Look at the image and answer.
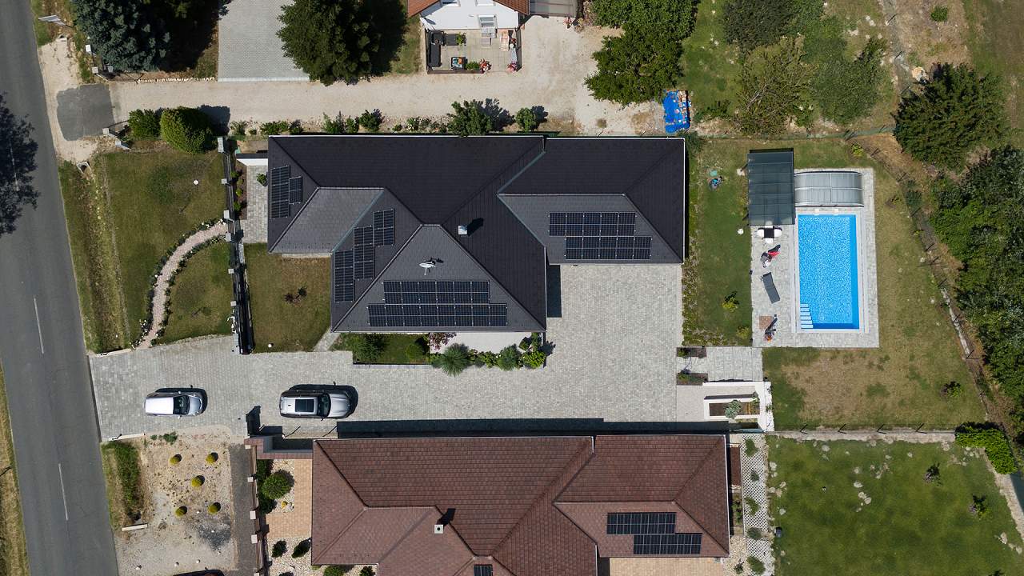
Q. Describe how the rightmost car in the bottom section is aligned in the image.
from side to side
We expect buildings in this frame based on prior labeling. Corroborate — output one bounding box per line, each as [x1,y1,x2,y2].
[266,135,687,333]
[310,433,731,576]
[406,0,530,31]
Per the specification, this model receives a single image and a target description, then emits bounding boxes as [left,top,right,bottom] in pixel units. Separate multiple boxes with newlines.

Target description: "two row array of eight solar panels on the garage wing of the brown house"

[605,514,704,555]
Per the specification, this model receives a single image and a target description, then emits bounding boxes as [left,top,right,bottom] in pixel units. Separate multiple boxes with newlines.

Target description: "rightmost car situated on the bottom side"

[279,388,350,423]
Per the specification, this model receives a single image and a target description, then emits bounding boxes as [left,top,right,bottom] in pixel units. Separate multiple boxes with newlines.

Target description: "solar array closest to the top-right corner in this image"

[548,213,653,260]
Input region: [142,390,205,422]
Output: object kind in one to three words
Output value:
car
